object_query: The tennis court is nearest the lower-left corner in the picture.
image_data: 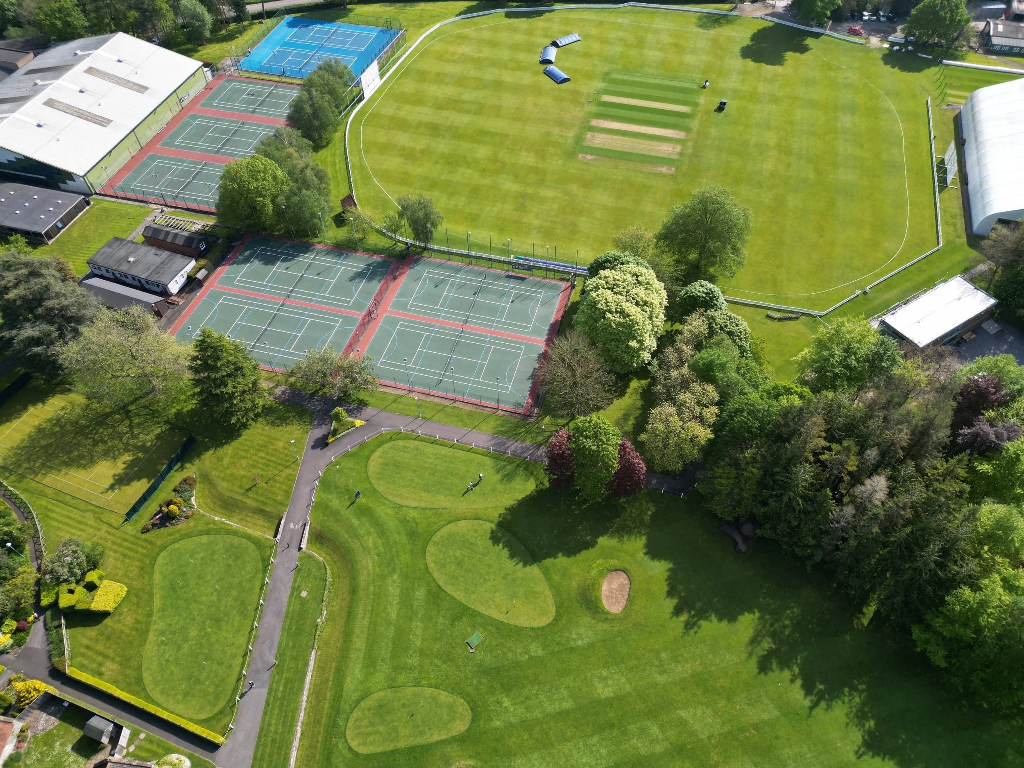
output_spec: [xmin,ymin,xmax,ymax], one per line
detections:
[0,377,188,520]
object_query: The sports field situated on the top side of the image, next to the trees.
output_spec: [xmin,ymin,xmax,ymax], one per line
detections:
[346,5,940,315]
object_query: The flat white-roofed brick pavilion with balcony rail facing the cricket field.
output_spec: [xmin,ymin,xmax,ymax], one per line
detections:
[868,276,1001,359]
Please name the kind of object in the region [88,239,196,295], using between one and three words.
shed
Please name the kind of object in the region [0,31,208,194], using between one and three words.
building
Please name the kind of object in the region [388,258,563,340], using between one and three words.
tennis court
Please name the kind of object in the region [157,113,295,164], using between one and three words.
tennis court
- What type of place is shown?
sports ground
